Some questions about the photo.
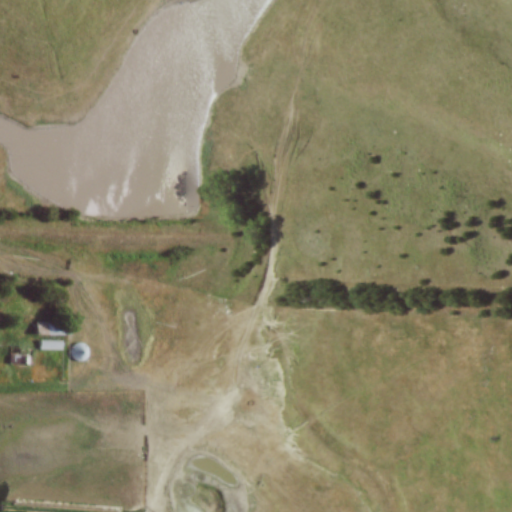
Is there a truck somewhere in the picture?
No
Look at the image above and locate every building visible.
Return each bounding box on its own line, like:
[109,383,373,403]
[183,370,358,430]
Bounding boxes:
[10,350,32,366]
[40,340,64,351]
[38,322,66,335]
